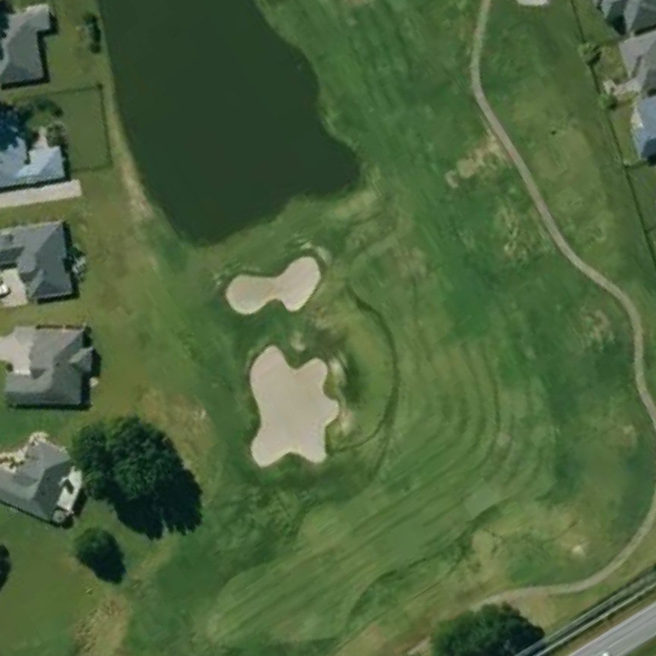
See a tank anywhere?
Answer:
No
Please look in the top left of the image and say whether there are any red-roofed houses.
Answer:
No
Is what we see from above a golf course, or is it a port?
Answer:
golf course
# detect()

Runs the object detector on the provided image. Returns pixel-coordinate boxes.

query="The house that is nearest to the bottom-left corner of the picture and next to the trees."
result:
[0,438,90,527]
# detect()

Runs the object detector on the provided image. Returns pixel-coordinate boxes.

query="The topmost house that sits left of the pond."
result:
[0,4,51,83]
